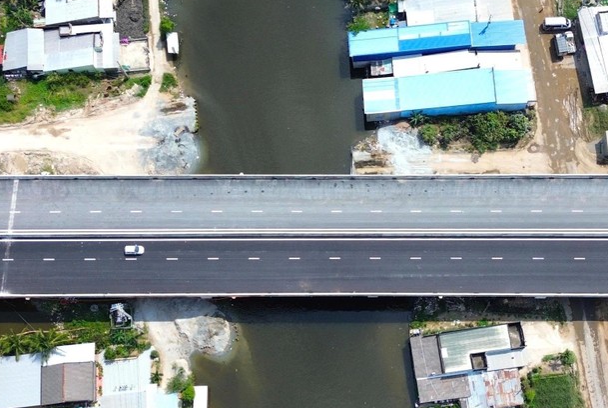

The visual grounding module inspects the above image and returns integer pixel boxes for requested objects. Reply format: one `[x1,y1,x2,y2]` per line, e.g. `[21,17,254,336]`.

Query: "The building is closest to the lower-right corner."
[410,325,526,408]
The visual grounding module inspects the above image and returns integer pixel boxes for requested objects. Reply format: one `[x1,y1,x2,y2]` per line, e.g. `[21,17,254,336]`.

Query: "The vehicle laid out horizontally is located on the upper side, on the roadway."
[542,19,569,31]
